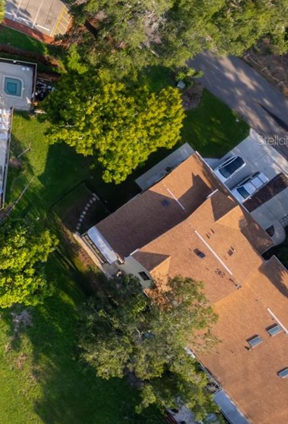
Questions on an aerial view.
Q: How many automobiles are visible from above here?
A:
2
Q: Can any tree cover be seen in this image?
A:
Yes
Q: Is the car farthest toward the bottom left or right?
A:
right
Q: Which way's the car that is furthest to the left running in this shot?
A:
diagonally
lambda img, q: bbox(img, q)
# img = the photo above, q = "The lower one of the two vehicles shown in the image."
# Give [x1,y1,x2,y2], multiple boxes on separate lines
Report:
[235,171,274,204]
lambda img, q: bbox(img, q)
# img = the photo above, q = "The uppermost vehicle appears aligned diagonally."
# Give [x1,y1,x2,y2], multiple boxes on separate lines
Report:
[214,152,252,183]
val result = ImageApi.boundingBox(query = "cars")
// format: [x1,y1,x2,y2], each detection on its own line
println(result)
[214,152,252,183]
[235,171,274,204]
